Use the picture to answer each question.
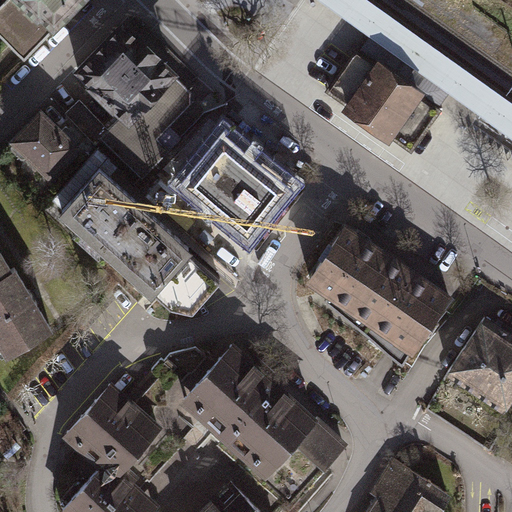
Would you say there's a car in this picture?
Yes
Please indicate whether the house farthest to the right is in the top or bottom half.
bottom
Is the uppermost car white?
No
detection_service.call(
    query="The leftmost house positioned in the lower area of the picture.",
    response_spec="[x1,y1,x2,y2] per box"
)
[0,262,52,360]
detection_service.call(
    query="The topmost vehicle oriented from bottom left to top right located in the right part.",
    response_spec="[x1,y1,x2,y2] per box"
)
[414,131,434,155]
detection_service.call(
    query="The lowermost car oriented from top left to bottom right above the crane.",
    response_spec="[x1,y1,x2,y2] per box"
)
[277,134,302,156]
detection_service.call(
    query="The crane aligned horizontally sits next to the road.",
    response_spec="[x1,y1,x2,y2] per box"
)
[89,193,316,238]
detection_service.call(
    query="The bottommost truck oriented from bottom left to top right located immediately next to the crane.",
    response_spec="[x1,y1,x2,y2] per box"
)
[256,238,280,268]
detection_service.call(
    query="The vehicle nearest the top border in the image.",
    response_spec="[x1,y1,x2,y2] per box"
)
[76,0,98,20]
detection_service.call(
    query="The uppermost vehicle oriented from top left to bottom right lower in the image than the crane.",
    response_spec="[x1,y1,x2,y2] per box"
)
[215,244,242,269]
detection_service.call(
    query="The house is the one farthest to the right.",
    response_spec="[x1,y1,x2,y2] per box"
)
[448,322,512,417]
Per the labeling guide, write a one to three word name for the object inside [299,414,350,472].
house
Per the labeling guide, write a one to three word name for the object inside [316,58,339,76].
car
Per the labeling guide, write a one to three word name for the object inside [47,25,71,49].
vehicle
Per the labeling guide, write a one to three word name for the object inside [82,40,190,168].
house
